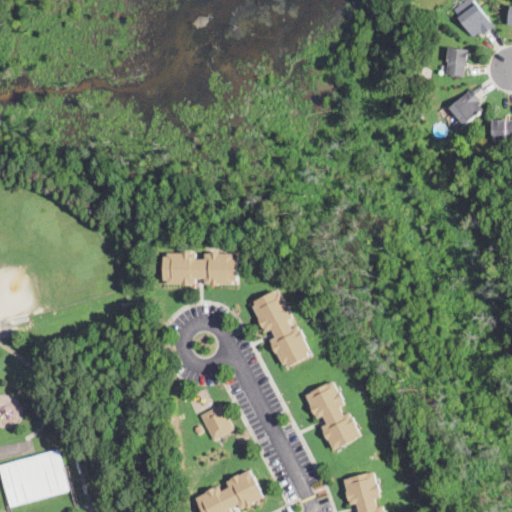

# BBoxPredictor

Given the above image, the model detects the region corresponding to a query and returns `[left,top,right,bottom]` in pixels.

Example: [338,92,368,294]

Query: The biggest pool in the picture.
[433,121,449,138]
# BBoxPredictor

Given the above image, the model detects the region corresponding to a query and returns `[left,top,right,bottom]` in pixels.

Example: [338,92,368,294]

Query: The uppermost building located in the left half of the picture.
[162,250,240,288]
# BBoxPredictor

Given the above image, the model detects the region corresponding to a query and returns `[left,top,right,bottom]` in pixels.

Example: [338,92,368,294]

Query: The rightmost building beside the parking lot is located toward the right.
[344,472,388,512]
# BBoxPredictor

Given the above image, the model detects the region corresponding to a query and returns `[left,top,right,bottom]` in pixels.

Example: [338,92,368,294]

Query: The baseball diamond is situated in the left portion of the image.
[0,188,125,332]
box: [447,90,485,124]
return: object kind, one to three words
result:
house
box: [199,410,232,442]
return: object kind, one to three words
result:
building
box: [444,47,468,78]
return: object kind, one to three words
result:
house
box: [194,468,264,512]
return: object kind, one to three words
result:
building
